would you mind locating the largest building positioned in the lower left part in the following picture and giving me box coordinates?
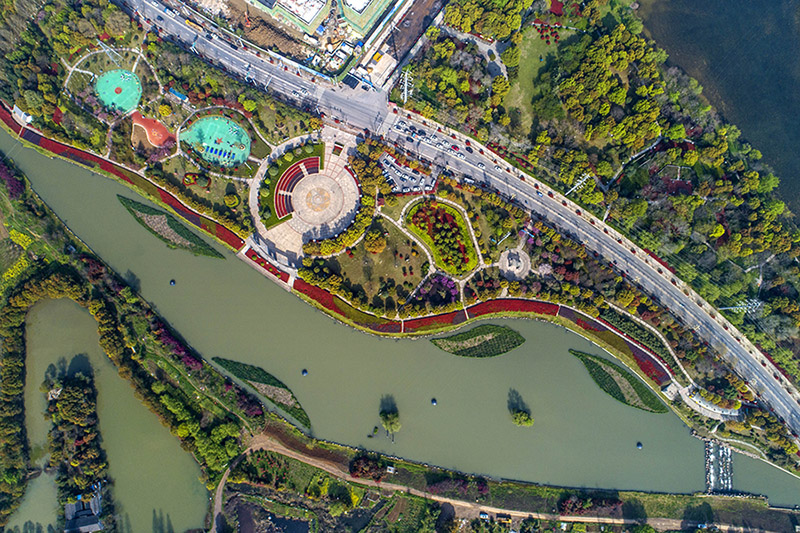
[62,495,105,532]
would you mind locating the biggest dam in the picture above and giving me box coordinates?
[704,442,734,495]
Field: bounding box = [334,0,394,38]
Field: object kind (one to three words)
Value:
building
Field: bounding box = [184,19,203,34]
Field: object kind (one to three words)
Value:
vehicle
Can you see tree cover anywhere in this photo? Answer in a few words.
Yes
